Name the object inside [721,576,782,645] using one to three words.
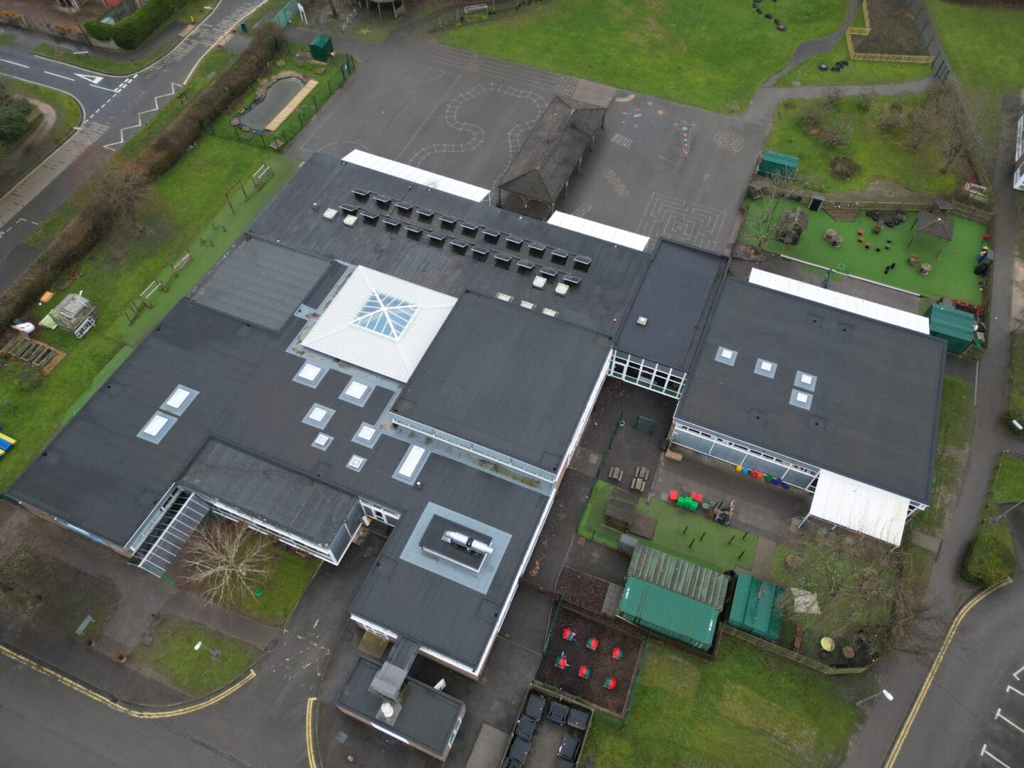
shed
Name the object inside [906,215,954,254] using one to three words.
gazebo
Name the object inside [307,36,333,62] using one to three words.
shed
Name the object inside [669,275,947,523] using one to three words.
building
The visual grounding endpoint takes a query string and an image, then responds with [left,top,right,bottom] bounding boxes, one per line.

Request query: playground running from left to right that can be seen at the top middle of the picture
[283,0,940,255]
